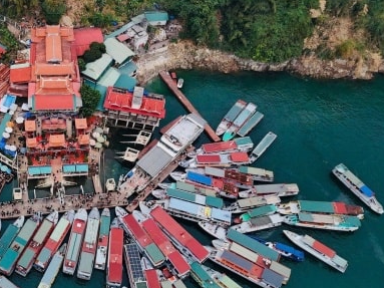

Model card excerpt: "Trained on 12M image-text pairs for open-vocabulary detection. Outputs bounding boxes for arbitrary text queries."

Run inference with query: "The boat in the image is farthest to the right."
[330,165,384,211]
